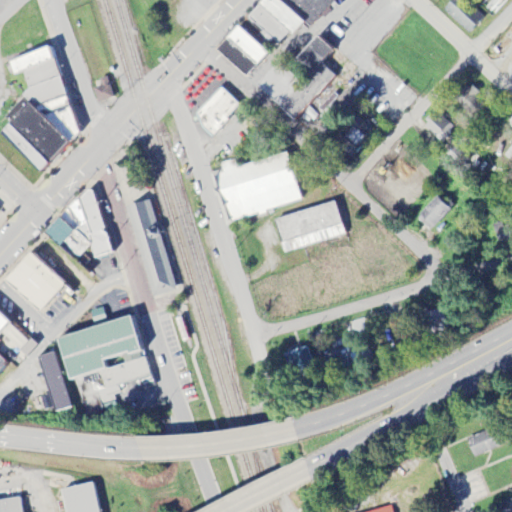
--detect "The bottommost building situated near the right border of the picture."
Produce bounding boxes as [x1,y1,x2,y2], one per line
[471,430,499,456]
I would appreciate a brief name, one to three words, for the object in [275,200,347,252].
barn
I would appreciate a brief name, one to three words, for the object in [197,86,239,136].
building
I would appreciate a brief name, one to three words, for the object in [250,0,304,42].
building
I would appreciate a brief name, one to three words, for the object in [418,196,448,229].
house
